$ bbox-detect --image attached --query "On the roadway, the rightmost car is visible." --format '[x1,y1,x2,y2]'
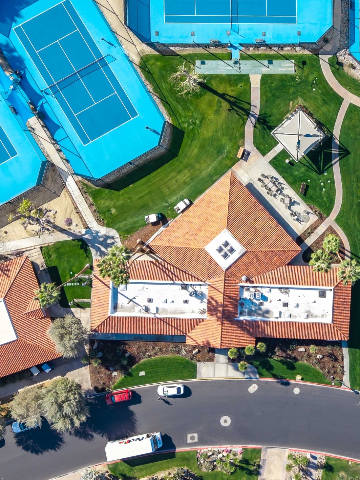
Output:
[157,383,185,397]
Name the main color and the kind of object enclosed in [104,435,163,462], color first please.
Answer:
white truck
